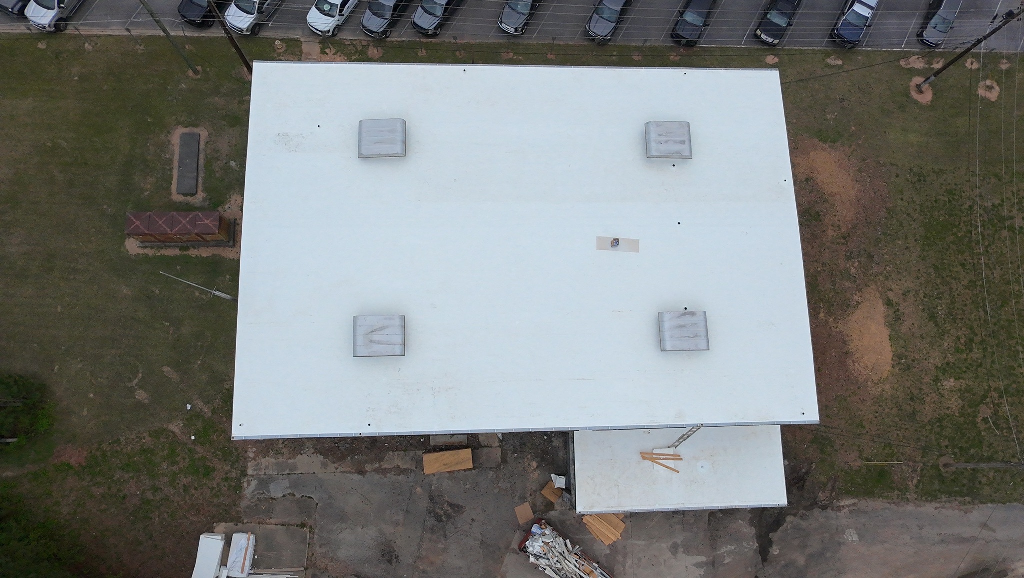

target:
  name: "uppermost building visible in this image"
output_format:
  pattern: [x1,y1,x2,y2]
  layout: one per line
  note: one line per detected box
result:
[232,61,822,440]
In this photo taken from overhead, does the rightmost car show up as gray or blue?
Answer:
gray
